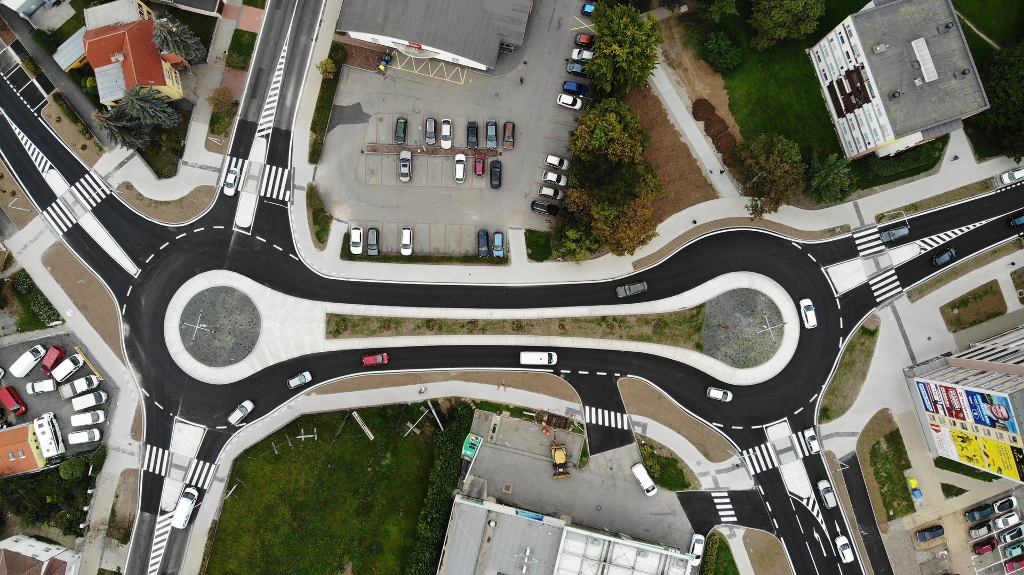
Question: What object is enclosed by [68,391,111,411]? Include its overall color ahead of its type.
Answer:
white vehicle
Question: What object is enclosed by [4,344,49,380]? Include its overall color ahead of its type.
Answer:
white van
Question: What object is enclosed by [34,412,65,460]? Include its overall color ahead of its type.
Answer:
white camper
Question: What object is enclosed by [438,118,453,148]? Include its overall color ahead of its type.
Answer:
white car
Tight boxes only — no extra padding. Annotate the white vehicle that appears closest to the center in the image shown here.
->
[520,351,556,366]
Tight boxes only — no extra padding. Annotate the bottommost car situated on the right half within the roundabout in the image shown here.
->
[706,386,732,403]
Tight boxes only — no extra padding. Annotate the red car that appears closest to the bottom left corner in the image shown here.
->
[0,384,26,416]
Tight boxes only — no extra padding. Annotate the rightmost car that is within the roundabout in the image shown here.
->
[799,299,816,328]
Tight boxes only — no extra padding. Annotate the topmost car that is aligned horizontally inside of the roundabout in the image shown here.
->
[616,281,647,298]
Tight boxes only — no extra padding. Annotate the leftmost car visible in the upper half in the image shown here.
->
[223,167,241,197]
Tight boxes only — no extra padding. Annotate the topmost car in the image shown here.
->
[575,2,603,19]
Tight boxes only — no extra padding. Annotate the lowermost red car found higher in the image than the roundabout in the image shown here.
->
[473,154,486,177]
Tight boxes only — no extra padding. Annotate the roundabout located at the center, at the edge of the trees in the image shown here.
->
[121,226,842,429]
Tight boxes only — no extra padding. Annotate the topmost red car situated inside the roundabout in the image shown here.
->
[362,352,389,366]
